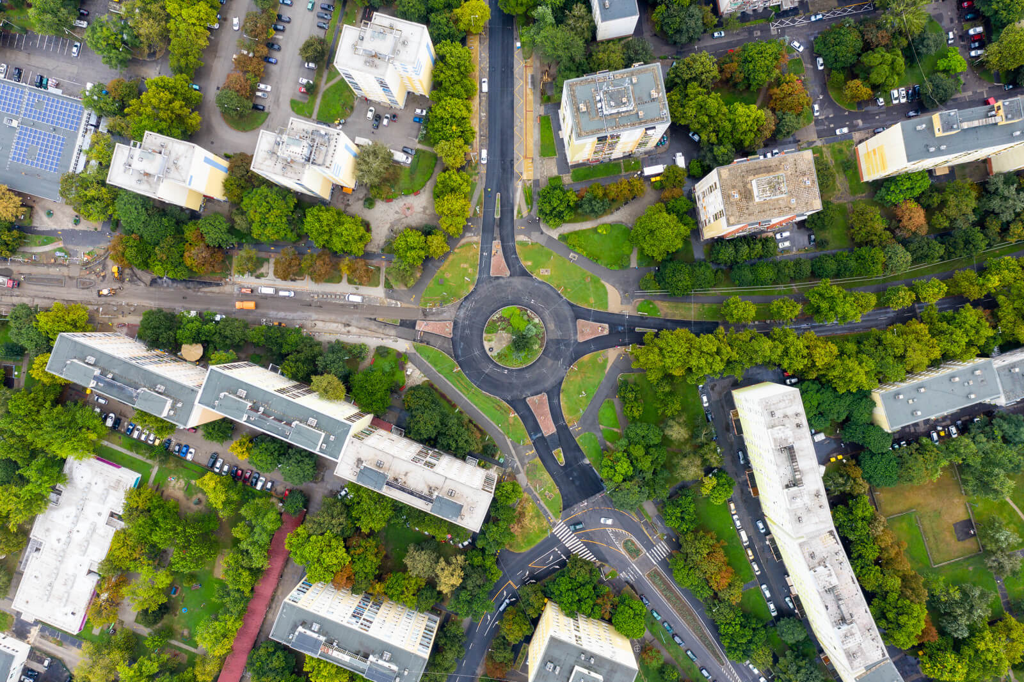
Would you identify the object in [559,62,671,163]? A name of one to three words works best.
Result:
building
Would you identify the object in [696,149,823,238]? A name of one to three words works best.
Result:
building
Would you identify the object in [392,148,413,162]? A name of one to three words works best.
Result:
vehicle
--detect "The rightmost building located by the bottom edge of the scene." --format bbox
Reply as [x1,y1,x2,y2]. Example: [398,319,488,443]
[524,600,638,682]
